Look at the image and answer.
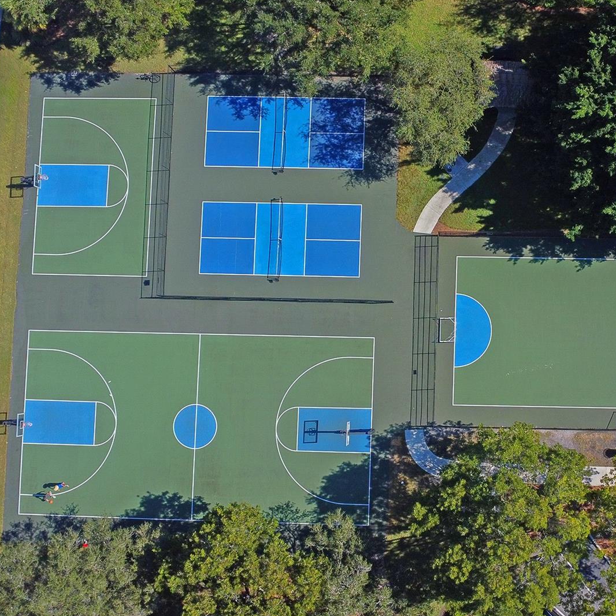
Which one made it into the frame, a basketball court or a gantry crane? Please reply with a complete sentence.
The one in the frame is a basketball court.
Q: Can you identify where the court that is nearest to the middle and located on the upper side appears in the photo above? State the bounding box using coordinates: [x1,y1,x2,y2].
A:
[199,201,362,277]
